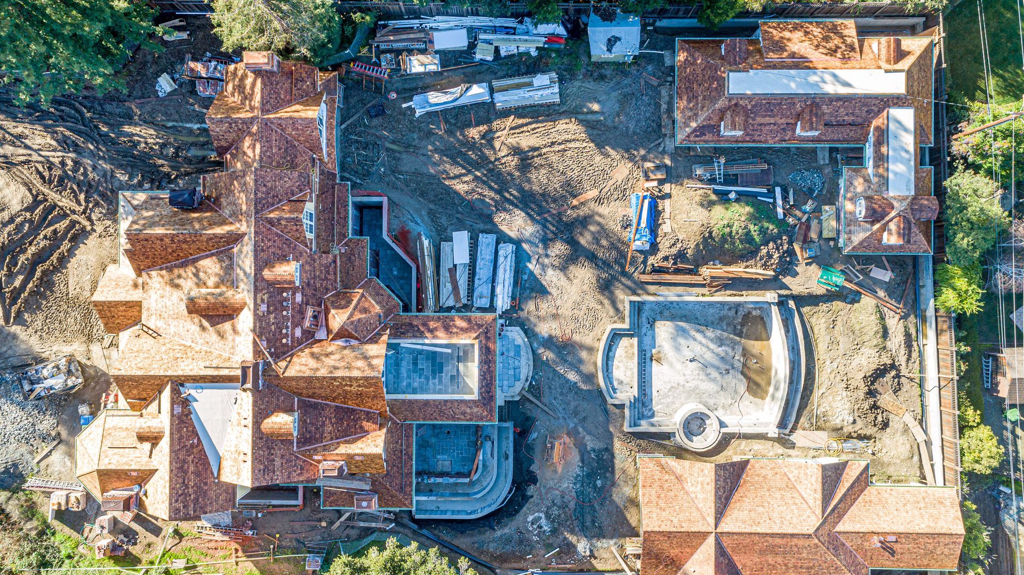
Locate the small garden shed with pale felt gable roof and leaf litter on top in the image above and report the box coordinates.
[588,12,640,69]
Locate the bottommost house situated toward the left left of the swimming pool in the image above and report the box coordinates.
[74,50,499,521]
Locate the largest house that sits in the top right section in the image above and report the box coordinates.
[673,19,937,255]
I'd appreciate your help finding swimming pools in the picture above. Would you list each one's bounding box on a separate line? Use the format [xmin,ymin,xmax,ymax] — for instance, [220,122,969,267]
[598,294,807,452]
